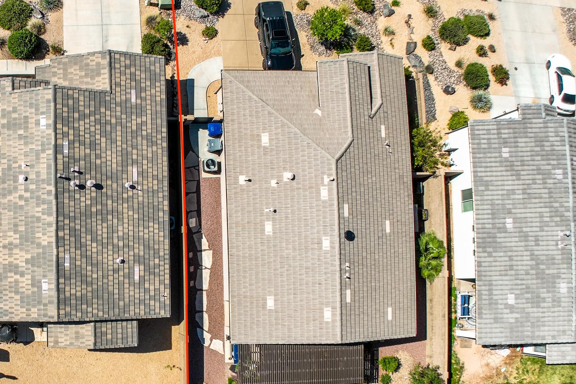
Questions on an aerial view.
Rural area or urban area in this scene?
urban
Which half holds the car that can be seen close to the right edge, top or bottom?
top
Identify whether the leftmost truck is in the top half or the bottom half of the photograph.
top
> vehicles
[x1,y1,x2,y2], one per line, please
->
[540,52,576,119]
[252,0,297,70]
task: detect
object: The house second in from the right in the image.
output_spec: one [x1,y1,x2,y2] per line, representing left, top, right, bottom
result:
[218,51,417,345]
